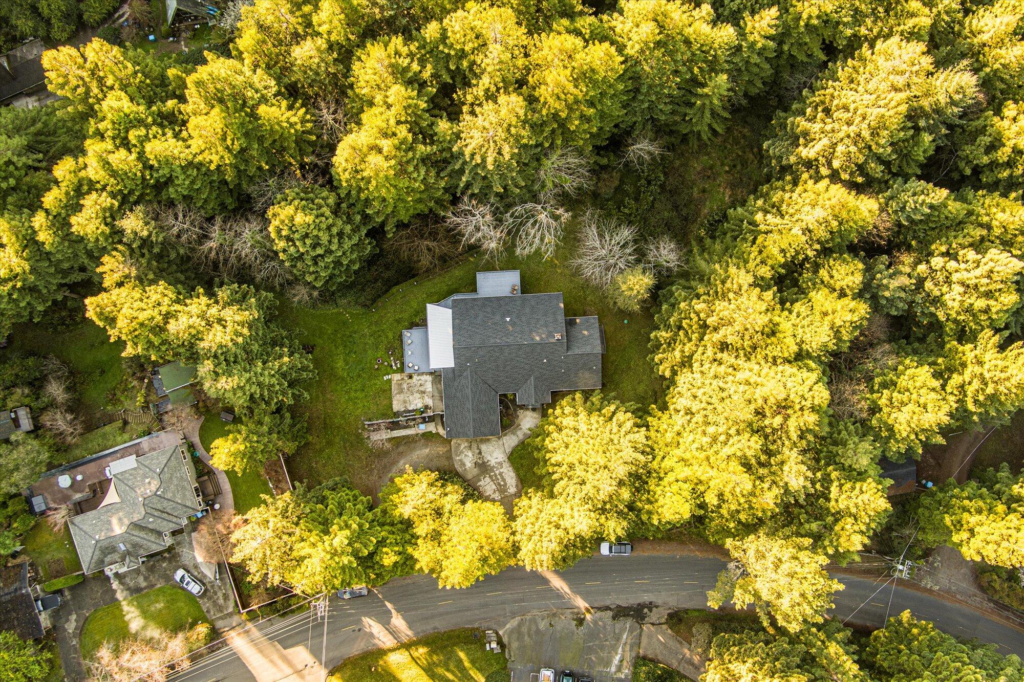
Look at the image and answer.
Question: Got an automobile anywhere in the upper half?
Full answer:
No, no automobile is visible in the upper half.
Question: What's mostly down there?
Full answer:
The scene is dominated by trees.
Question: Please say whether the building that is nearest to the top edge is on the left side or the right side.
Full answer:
You can find the building that is nearest to the top edge on the left side of the picture.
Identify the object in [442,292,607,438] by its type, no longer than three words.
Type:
house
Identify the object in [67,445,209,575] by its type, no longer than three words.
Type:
house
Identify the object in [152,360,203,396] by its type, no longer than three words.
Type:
shed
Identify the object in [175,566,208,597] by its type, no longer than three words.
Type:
car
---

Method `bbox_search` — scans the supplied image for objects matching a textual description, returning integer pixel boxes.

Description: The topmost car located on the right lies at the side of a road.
[600,540,633,557]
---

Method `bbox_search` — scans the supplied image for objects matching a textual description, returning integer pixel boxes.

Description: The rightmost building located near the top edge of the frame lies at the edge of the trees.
[168,0,218,28]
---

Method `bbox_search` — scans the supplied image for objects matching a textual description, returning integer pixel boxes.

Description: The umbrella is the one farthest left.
[60,474,76,487]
